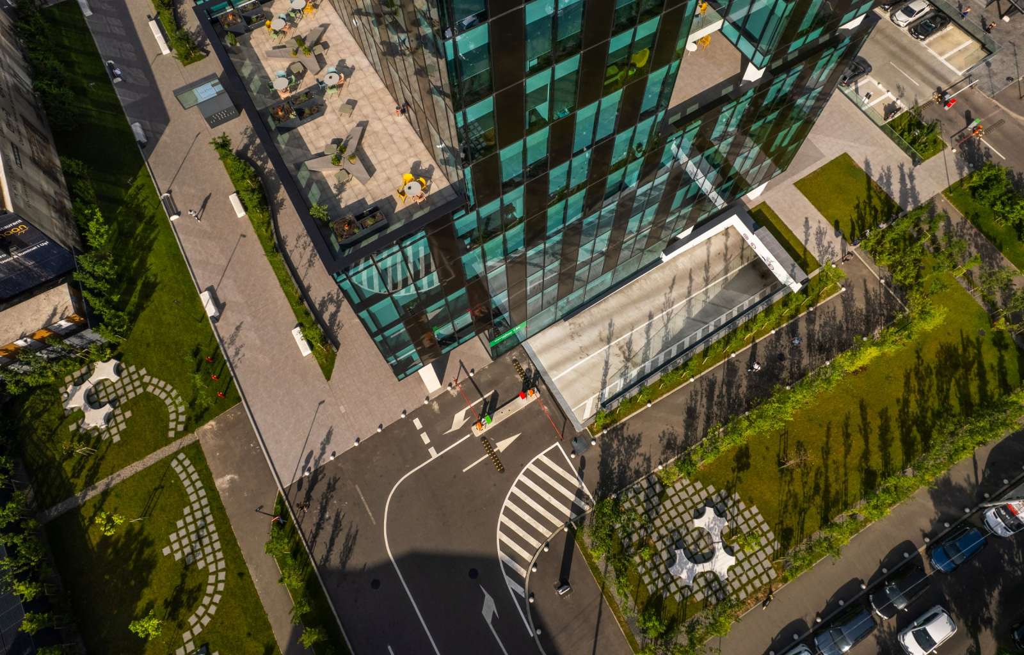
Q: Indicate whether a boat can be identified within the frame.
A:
No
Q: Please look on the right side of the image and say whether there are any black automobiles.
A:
Yes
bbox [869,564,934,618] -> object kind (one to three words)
car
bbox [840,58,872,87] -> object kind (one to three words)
car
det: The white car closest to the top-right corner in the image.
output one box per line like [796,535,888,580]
[893,1,929,27]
